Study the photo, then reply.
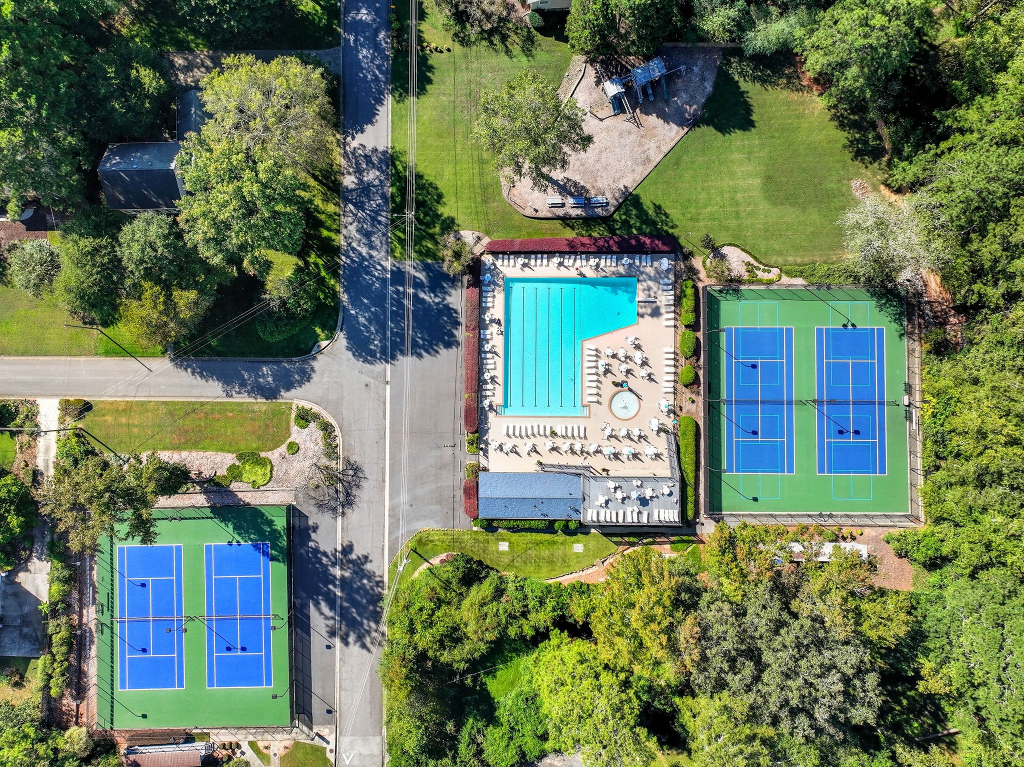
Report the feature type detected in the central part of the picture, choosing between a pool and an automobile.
pool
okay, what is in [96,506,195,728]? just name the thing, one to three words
tennis court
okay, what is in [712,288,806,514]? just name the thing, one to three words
tennis court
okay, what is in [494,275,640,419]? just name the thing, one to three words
swimming pool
